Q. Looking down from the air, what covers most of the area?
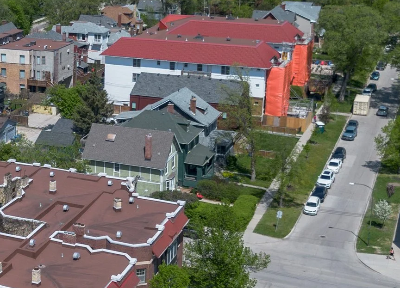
buildings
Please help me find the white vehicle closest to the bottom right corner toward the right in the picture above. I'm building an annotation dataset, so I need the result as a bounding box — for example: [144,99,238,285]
[303,197,322,213]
